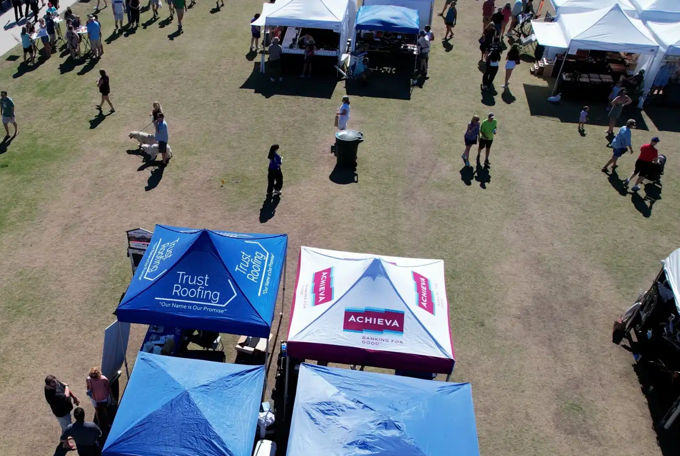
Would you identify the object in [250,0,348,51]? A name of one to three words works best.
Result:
tent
